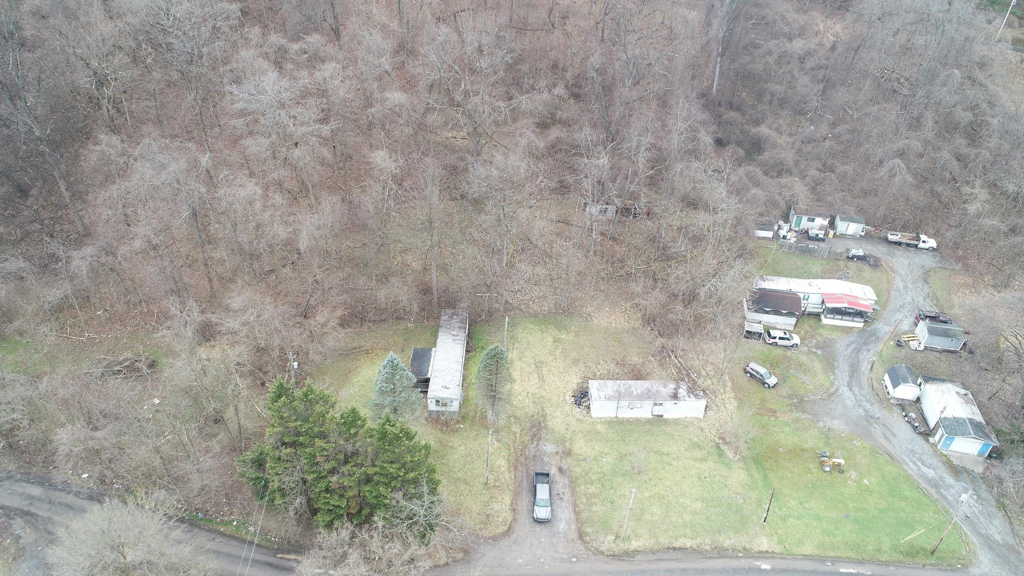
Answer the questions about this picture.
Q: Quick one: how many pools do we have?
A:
0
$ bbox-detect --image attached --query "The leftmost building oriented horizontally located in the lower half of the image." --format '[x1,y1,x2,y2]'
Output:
[590,379,709,418]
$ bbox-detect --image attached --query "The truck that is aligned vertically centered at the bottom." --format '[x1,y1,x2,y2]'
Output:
[532,473,554,523]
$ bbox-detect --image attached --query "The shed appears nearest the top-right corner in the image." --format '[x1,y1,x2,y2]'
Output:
[835,213,866,241]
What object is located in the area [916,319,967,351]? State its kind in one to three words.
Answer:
shed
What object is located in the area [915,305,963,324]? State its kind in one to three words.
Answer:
vehicle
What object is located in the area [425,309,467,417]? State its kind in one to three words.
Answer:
house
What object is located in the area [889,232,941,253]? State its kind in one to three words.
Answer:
truck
